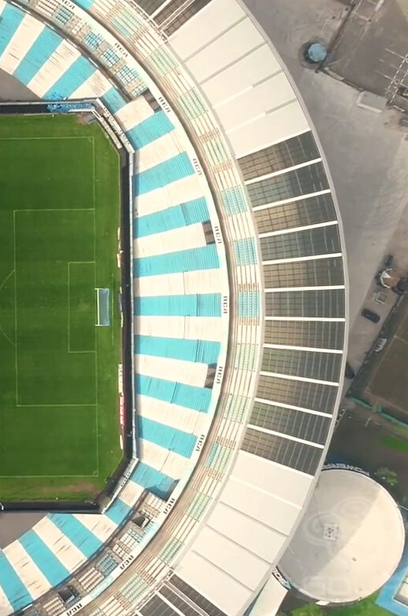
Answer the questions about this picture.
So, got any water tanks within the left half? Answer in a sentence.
No, no water tank is visible within the left half.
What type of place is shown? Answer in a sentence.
The picture captures a sports ground.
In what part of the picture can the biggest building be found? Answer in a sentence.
The biggest building is located in the bottom right region of the scene.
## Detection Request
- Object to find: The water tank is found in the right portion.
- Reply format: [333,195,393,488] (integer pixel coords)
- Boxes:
[297,42,326,68]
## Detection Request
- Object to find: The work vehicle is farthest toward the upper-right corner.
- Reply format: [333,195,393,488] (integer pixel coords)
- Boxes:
[388,89,408,101]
